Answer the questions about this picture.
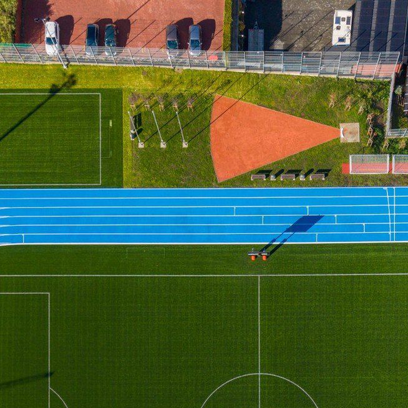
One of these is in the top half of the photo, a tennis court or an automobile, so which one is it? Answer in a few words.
automobile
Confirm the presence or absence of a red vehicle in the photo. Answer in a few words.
No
